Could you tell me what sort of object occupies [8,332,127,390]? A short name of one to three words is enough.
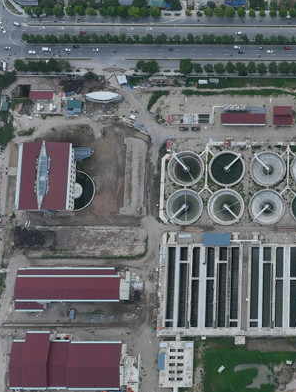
building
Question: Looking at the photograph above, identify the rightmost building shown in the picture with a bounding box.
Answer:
[273,105,292,127]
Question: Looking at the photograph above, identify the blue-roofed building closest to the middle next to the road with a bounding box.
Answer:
[204,232,231,245]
